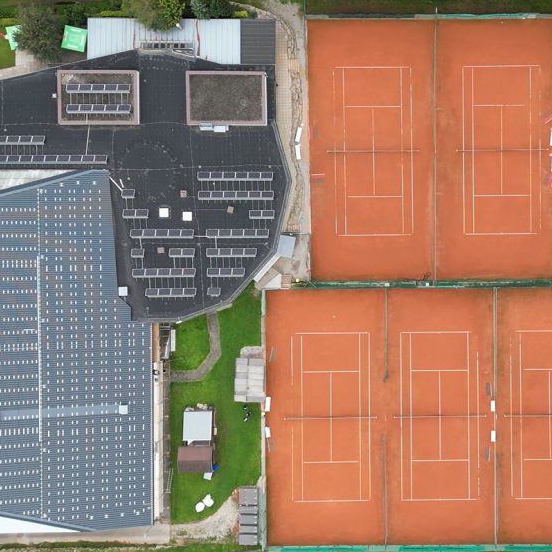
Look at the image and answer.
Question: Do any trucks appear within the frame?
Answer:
No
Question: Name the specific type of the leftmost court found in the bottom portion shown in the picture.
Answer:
tennis court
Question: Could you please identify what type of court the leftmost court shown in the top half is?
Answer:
tennis court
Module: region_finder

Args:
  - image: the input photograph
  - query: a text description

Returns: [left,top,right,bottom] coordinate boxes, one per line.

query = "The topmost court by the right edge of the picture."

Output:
[436,18,552,281]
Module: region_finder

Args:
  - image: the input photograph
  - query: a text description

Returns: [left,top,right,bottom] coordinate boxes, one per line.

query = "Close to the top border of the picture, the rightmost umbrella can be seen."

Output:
[63,27,88,52]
